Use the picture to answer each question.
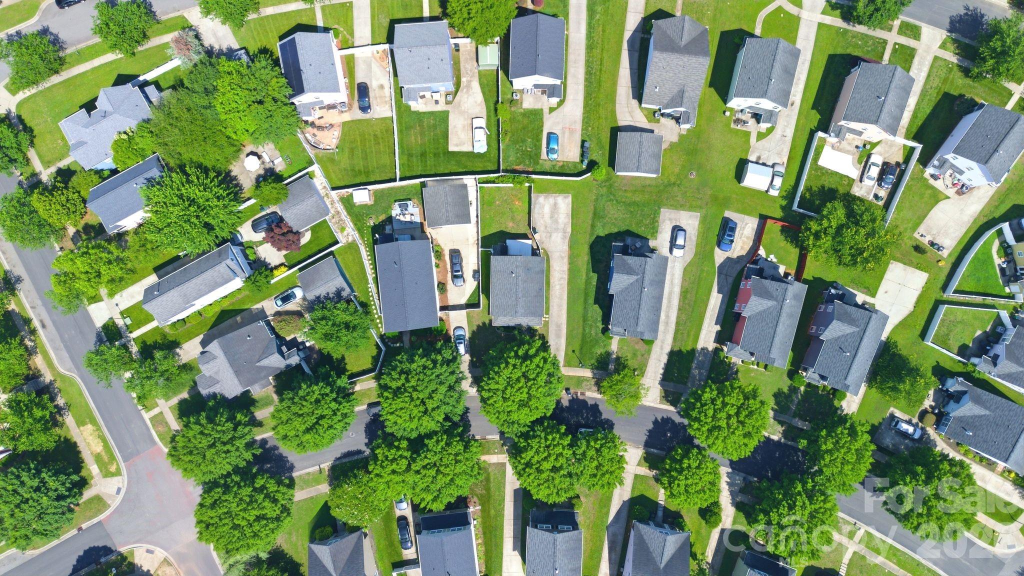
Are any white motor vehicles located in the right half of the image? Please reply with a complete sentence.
Yes, in the right half of the image there is a white motor vehicle.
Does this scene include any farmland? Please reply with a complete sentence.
No, the scene doesn't show any farmland.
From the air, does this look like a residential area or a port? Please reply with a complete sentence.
This looks like a residential area.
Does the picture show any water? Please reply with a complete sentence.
No, no water is visible.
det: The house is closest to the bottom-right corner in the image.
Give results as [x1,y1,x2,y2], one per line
[931,376,1024,468]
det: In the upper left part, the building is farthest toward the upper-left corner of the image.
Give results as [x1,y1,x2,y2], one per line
[60,77,163,170]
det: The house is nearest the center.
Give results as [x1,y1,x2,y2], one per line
[489,240,546,326]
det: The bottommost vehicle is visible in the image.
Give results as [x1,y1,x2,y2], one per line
[397,517,413,549]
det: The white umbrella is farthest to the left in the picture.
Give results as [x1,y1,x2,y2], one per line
[245,155,261,172]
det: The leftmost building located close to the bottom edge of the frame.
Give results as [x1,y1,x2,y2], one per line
[306,521,381,576]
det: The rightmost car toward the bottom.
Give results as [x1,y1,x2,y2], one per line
[889,417,922,439]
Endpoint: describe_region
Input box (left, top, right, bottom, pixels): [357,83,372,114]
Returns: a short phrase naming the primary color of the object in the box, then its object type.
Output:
blue car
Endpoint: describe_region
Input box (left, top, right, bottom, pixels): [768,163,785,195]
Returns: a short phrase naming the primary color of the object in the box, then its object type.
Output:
white car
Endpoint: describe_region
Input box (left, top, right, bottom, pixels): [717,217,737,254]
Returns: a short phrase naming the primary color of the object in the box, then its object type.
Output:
blue vehicle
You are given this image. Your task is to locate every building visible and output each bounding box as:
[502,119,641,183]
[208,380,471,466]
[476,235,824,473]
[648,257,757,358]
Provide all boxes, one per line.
[619,511,693,576]
[275,174,332,232]
[924,100,1024,187]
[525,506,584,576]
[823,61,915,143]
[60,77,163,170]
[87,153,184,235]
[614,131,664,178]
[416,507,479,576]
[799,288,889,396]
[353,189,372,204]
[999,239,1024,295]
[509,14,566,102]
[394,21,453,105]
[733,545,796,576]
[422,184,472,228]
[478,44,499,69]
[278,31,348,121]
[722,265,808,369]
[931,376,1024,468]
[374,232,440,332]
[195,320,305,398]
[606,243,668,341]
[296,256,354,311]
[306,521,381,576]
[489,240,546,326]
[724,36,801,128]
[142,243,256,328]
[737,162,772,193]
[638,14,712,132]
